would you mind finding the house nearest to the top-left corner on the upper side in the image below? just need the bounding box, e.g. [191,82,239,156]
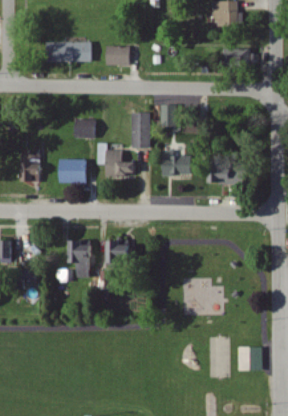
[47,41,92,62]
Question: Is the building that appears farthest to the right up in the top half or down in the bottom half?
bottom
